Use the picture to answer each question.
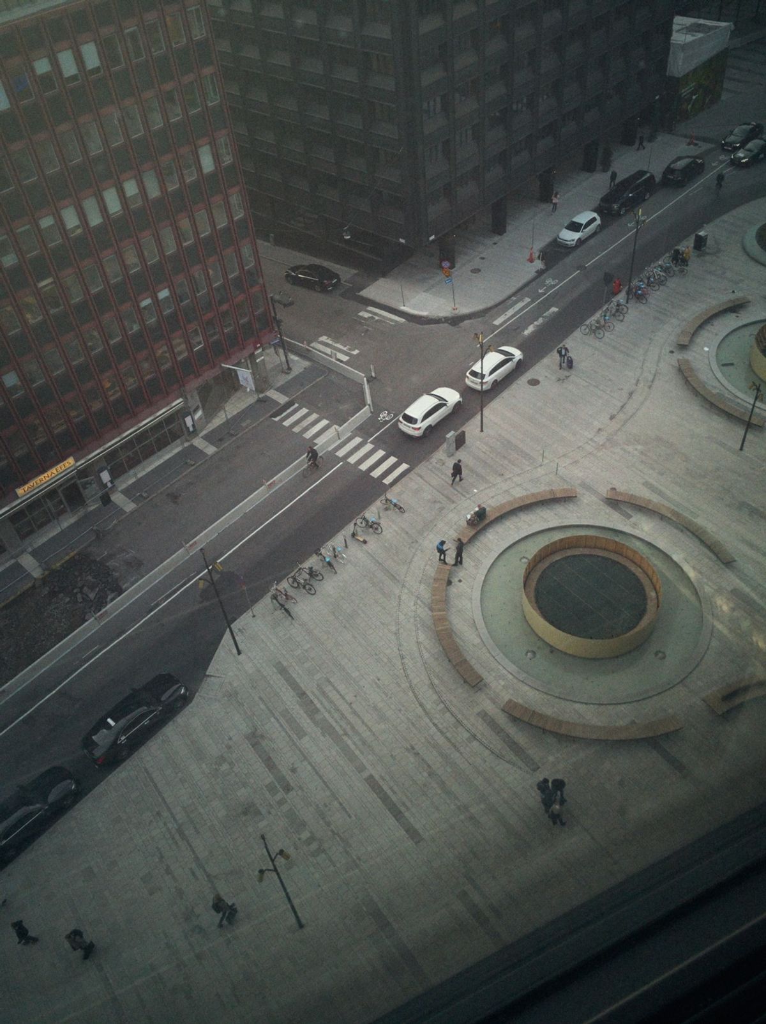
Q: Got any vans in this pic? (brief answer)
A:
Yes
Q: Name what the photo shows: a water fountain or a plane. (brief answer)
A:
water fountain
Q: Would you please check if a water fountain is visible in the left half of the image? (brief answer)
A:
No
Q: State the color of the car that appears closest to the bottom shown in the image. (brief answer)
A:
black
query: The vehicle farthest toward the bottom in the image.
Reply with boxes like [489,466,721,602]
[0,762,79,858]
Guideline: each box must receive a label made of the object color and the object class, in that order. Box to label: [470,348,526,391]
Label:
white car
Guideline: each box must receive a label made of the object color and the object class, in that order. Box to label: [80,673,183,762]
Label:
black car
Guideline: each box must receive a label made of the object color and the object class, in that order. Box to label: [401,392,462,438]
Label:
white car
